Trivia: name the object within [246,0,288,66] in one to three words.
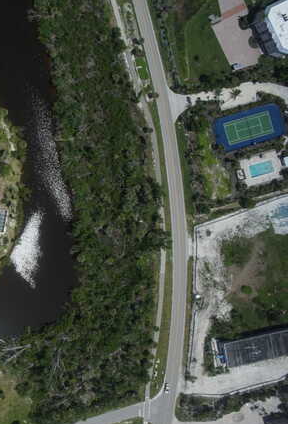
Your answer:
building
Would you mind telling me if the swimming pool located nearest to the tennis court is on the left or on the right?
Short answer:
right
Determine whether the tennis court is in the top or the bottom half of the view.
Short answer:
top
